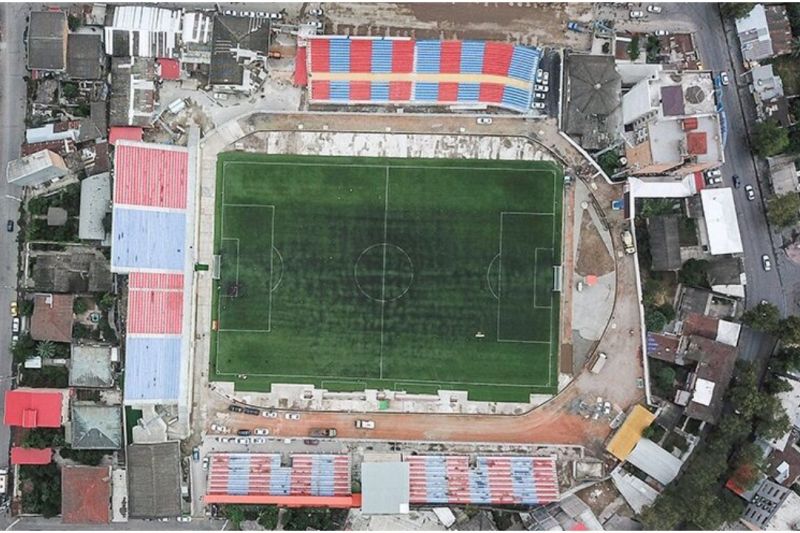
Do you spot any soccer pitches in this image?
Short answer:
Yes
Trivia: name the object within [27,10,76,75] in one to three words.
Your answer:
building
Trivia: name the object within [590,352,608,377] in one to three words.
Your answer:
vehicle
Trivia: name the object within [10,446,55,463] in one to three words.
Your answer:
shed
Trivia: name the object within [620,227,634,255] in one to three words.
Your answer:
vehicle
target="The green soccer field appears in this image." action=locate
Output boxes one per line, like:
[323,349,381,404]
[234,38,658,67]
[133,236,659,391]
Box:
[209,152,562,402]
